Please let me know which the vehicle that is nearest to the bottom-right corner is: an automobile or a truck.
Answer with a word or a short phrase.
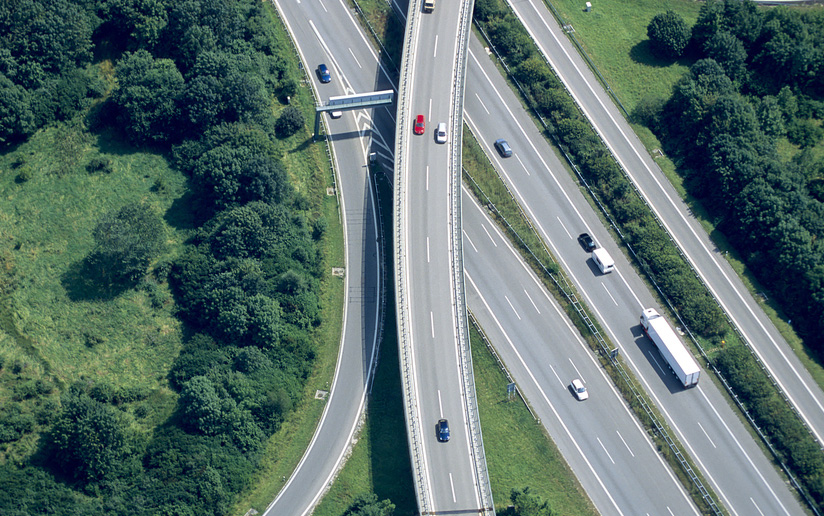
truck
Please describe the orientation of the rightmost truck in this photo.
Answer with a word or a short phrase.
at an angle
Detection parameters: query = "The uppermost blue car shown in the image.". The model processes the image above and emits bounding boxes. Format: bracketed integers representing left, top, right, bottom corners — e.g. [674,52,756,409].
[316,63,332,82]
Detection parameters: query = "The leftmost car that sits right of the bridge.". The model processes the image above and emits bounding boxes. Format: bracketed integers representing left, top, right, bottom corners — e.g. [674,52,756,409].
[496,138,512,157]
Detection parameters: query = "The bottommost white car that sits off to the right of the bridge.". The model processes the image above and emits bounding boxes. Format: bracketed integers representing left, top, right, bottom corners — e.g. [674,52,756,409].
[572,378,587,400]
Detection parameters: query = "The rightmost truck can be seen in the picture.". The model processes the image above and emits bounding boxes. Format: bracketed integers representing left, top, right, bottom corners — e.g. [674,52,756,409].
[640,309,699,386]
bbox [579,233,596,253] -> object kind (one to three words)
car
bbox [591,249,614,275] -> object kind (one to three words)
camper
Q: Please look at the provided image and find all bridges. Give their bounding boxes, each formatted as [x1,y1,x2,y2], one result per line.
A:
[393,0,495,516]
